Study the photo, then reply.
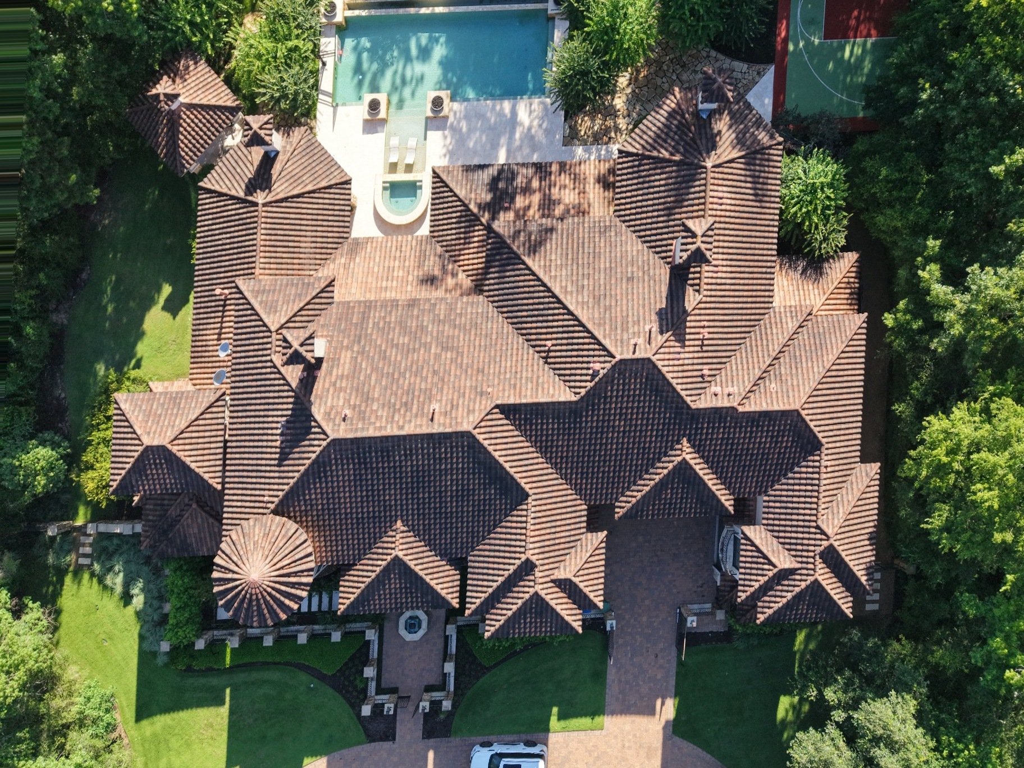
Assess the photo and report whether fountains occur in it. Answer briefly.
Yes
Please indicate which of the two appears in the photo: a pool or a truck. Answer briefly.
pool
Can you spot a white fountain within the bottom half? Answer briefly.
No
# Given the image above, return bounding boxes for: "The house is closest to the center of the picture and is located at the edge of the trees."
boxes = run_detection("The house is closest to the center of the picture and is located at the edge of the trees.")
[106,64,883,640]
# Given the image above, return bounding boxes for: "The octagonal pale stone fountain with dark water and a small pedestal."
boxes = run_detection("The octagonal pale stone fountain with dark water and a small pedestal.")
[398,610,428,641]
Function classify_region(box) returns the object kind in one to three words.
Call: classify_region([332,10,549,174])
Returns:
swimming pool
